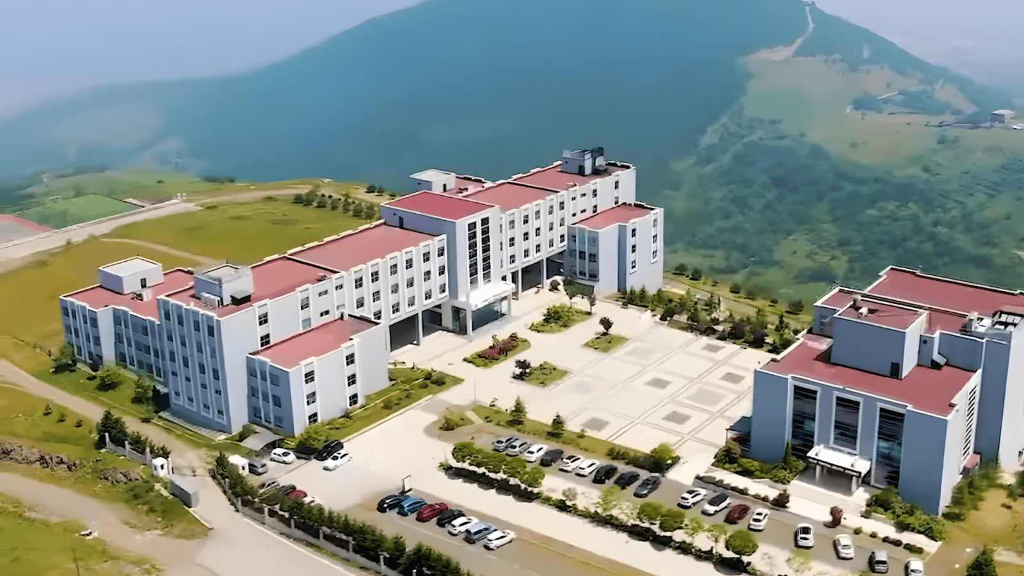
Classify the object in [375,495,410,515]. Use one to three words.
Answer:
car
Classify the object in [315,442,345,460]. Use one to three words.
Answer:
car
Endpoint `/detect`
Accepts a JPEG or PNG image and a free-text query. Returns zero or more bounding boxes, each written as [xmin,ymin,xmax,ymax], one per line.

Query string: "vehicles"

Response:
[869,550,890,576]
[375,495,410,515]
[434,511,468,530]
[573,460,601,478]
[502,440,533,458]
[748,509,769,531]
[702,490,729,516]
[589,465,620,484]
[634,477,661,498]
[488,436,518,454]
[558,453,586,473]
[612,471,643,490]
[835,536,854,560]
[395,499,427,518]
[275,482,305,498]
[796,524,814,548]
[446,518,479,538]
[481,532,517,553]
[461,523,500,545]
[413,503,450,524]
[315,442,345,460]
[521,445,551,463]
[246,458,275,476]
[904,558,925,576]
[537,449,566,468]
[723,506,751,525]
[322,452,353,472]
[676,488,709,508]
